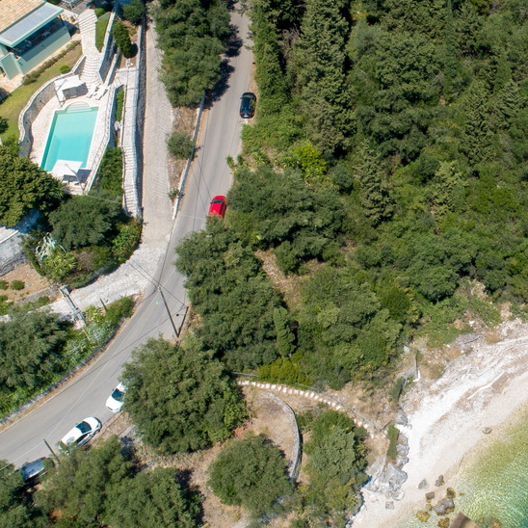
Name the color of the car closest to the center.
red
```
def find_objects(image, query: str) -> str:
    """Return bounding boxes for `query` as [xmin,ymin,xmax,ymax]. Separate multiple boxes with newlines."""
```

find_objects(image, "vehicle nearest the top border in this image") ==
[237,89,256,113]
